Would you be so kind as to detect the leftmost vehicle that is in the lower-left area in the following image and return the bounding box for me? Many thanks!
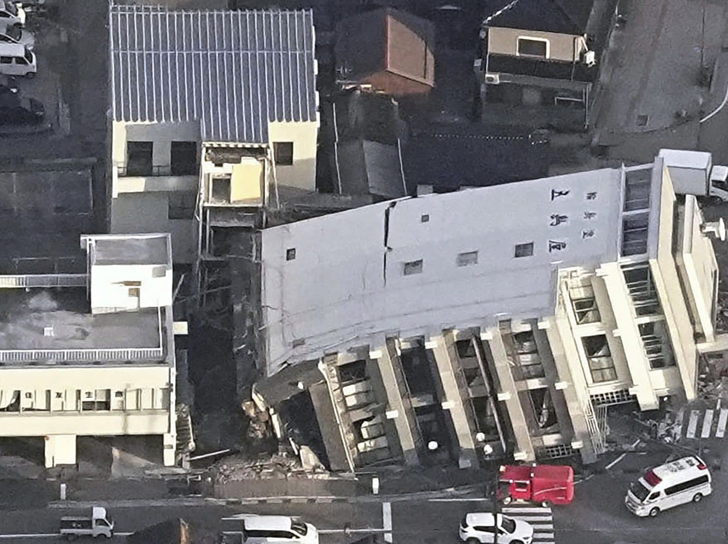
[57,503,116,540]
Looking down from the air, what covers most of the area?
buildings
